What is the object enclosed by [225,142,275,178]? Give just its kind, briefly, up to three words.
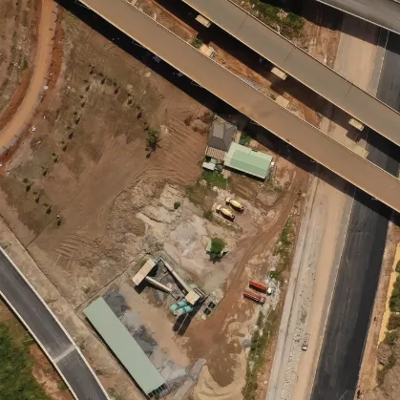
building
